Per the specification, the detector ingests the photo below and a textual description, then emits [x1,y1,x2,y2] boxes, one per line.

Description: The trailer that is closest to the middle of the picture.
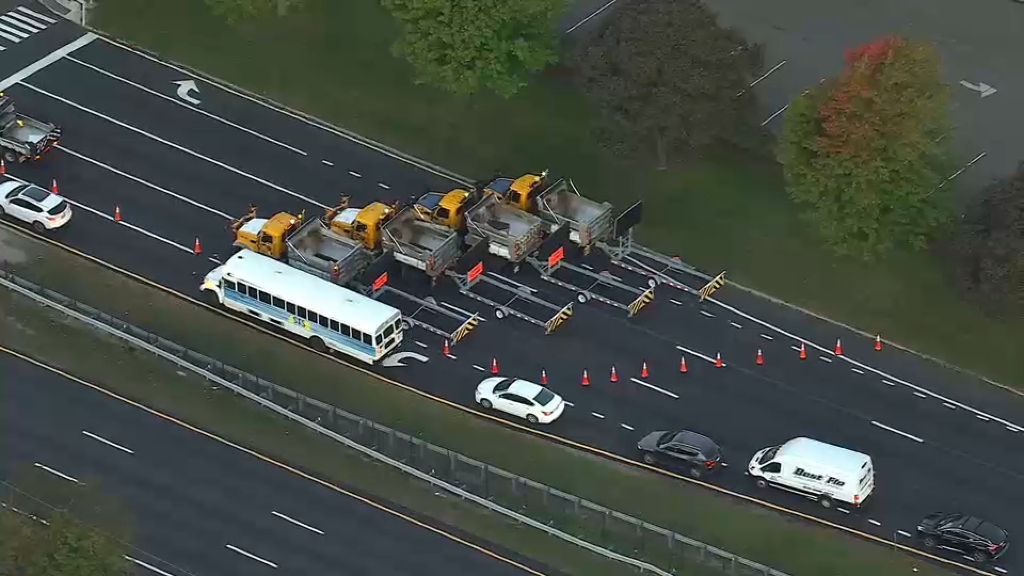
[447,231,571,338]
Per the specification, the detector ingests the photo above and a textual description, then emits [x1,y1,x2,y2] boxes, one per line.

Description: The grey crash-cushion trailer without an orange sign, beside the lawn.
[599,200,723,306]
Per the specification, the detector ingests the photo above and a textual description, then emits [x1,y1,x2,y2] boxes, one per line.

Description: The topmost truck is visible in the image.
[0,103,59,163]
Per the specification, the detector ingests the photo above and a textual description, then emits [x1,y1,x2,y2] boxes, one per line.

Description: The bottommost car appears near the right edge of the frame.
[914,509,1012,562]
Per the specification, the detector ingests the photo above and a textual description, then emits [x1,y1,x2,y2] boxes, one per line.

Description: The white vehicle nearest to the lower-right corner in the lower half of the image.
[743,432,872,509]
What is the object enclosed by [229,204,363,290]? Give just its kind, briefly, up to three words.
truck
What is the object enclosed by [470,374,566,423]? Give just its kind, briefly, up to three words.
car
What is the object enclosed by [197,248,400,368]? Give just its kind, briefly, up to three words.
bus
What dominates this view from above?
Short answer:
paved ground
